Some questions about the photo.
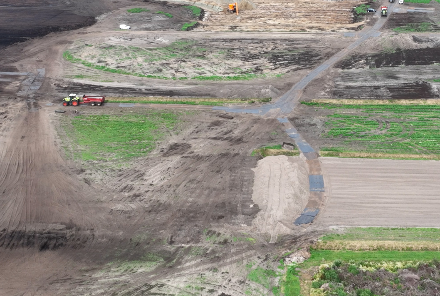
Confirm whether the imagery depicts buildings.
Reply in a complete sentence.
No, there is no building in the image.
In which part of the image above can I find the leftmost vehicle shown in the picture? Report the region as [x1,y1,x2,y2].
[62,94,81,106]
